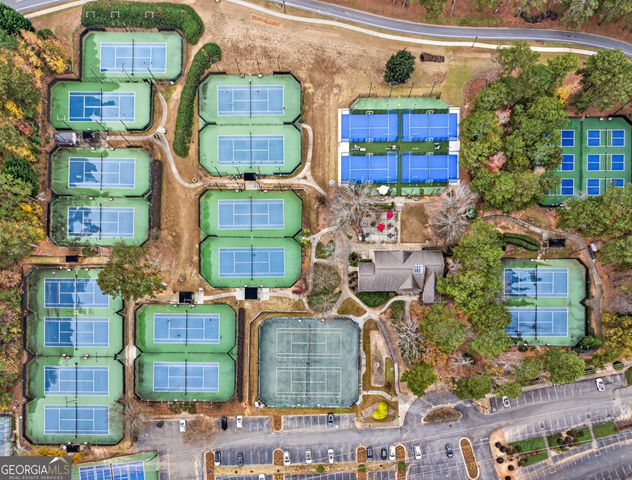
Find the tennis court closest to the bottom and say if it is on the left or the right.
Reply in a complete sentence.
The tennis court closest to the bottom sits on the left side.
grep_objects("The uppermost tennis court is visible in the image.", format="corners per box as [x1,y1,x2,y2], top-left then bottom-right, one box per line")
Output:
[83,30,182,80]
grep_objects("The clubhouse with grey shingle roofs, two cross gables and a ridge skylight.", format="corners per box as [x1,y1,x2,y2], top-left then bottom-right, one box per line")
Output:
[357,250,445,303]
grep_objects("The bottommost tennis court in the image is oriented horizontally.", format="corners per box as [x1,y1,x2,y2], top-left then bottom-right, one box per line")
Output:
[66,452,157,480]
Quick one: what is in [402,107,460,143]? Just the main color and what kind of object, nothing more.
blue sports court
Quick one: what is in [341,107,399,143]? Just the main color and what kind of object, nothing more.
blue sports court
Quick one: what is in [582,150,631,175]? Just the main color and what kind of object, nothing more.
green sports court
